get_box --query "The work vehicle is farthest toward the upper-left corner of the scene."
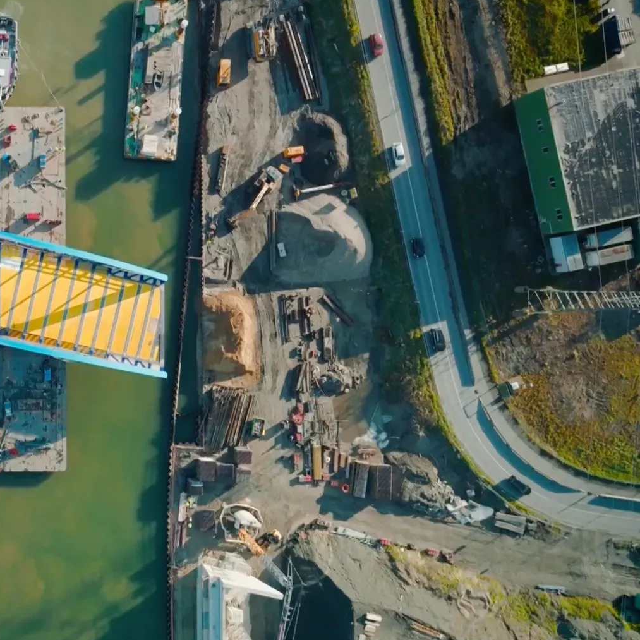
[229,157,290,230]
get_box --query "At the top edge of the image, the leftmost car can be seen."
[366,32,382,60]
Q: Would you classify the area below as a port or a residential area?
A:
port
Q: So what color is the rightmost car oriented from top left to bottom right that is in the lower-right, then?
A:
black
